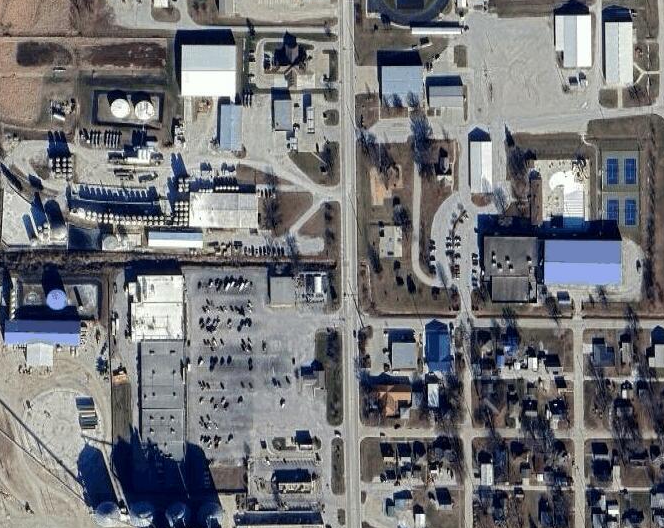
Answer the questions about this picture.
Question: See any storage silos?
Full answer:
Yes, there is a storage silo in the image.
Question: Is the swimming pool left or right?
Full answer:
The swimming pool appears in the right half of the scene.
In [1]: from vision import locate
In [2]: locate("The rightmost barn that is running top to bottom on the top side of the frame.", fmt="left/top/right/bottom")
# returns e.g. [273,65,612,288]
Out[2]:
[605,22,633,86]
